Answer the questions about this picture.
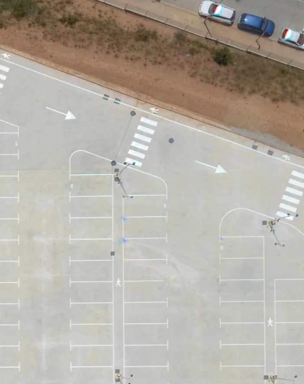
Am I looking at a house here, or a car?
car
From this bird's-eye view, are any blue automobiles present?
Yes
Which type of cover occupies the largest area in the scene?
paved ground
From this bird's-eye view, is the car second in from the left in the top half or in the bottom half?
top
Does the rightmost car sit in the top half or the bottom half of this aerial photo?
top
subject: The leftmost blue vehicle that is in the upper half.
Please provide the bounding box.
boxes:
[236,13,276,37]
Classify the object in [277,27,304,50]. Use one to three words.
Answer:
car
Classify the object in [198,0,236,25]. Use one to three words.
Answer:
car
